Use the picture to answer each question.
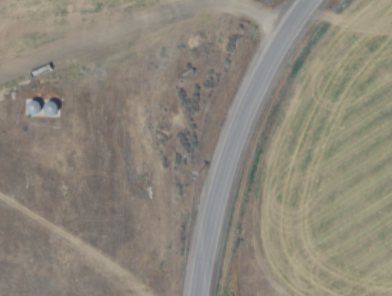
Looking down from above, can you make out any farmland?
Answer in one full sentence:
Yes, farmland shows up in the scene.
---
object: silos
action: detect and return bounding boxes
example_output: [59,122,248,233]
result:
[42,100,57,115]
[25,100,40,114]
